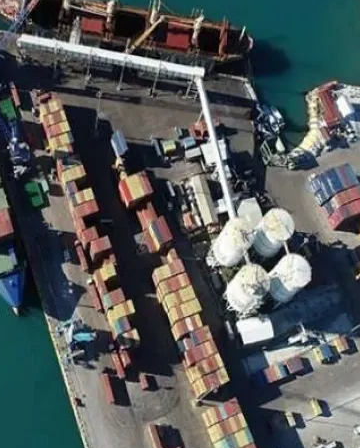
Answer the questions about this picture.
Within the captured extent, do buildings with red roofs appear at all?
Yes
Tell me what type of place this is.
port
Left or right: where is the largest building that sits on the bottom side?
right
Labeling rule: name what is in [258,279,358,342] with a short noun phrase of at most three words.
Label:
building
